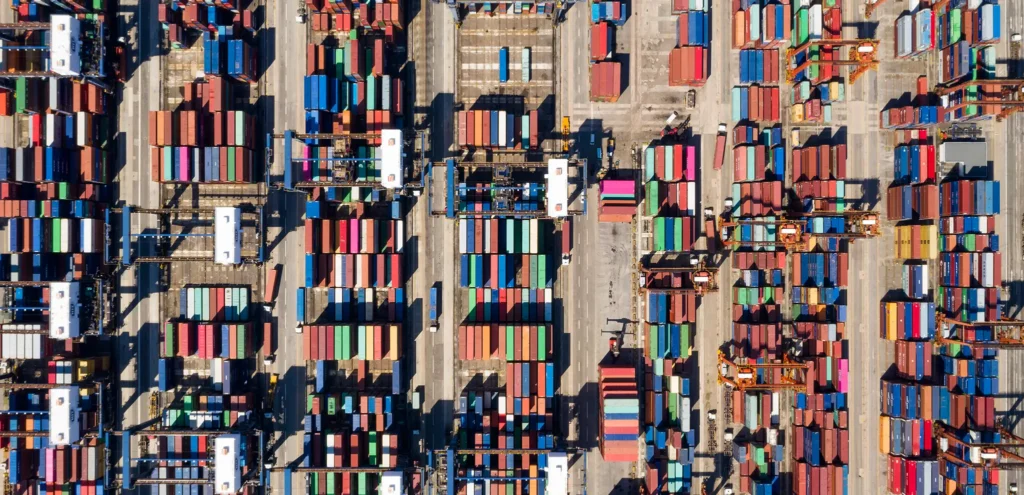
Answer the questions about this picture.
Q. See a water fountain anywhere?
No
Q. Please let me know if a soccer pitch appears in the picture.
No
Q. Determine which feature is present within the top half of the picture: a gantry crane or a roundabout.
gantry crane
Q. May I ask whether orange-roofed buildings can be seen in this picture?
No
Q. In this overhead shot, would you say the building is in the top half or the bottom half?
top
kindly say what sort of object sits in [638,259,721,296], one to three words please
container crane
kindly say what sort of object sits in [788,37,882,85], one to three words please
container crane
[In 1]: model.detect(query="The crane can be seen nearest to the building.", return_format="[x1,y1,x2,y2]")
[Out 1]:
[934,76,1024,122]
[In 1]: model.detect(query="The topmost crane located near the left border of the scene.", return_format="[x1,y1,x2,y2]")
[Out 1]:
[0,13,107,85]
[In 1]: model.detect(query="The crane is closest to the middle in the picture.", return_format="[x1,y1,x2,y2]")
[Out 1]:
[426,157,585,228]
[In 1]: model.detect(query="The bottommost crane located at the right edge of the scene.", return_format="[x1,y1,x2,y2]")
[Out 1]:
[936,422,1024,468]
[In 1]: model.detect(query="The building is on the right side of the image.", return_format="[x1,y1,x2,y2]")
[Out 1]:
[939,142,987,177]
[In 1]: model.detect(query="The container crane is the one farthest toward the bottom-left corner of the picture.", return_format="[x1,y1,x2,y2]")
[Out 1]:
[0,367,107,446]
